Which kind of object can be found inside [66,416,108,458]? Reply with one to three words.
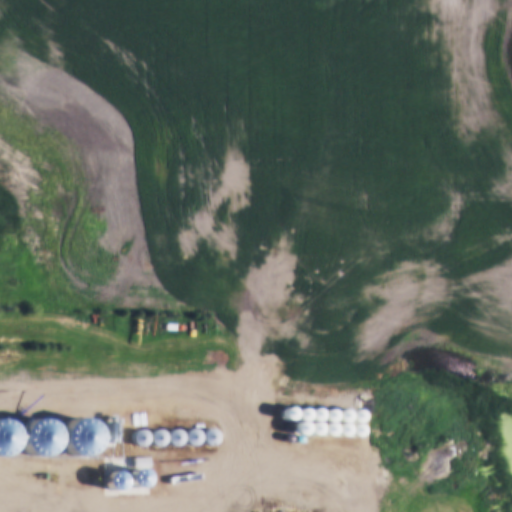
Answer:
silo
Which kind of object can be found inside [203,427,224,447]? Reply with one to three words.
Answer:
silo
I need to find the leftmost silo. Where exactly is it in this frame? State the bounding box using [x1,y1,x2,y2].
[0,417,28,458]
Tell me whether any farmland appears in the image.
Yes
